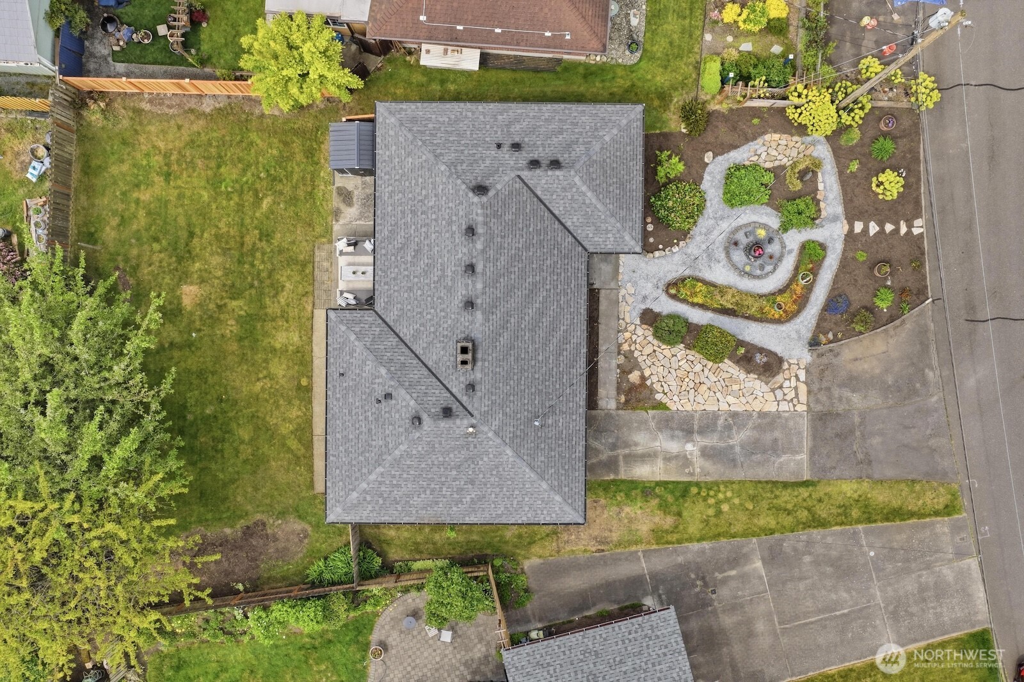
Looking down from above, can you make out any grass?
Yes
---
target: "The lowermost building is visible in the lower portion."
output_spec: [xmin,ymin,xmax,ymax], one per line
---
[501,602,697,682]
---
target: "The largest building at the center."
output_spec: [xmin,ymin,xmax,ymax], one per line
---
[325,101,645,526]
